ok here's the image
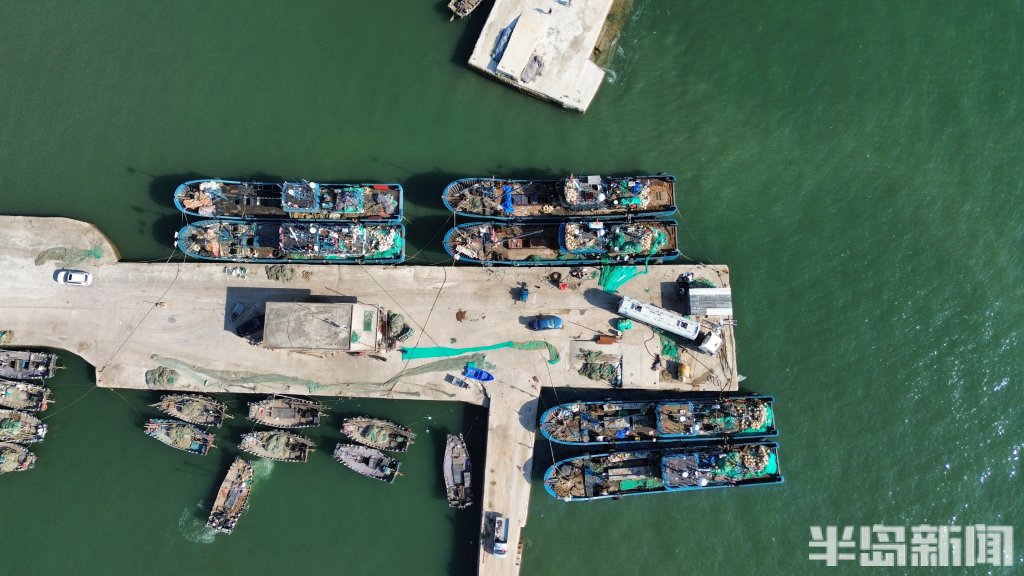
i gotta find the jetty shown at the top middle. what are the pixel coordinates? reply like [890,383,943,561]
[468,0,614,116]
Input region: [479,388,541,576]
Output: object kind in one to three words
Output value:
pier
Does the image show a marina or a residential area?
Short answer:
marina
